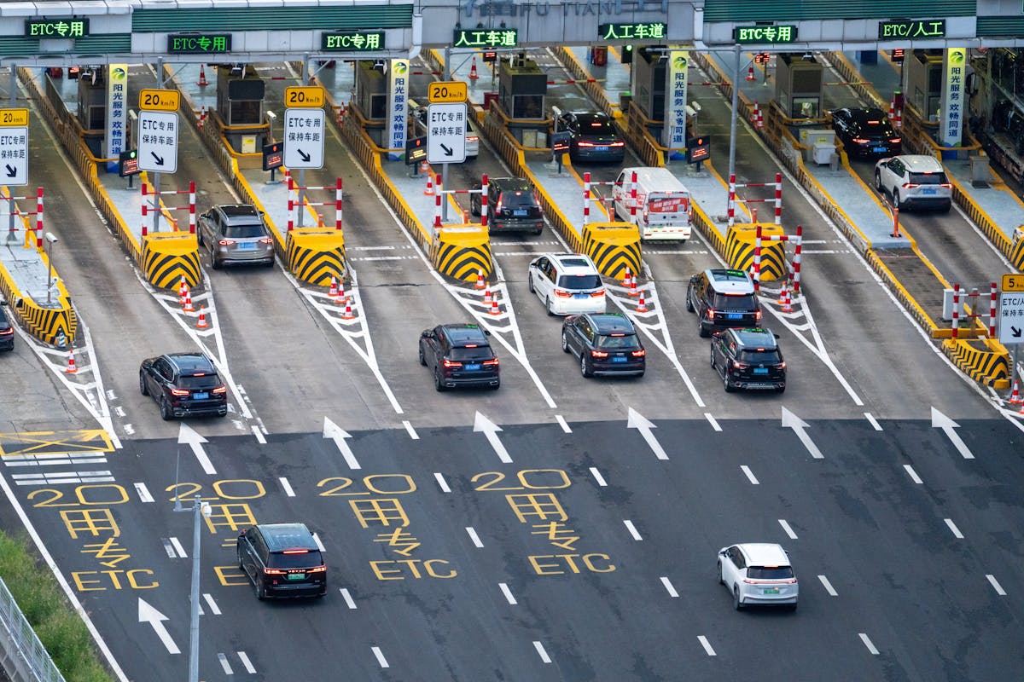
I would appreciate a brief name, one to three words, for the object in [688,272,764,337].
car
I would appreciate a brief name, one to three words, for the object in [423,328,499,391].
car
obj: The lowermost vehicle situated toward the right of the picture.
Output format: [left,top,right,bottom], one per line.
[720,546,799,611]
